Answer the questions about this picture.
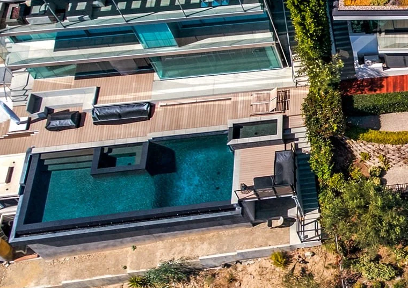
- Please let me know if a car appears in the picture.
No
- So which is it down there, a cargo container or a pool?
pool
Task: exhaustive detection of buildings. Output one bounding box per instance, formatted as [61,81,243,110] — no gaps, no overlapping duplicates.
[0,0,291,80]
[333,0,408,82]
